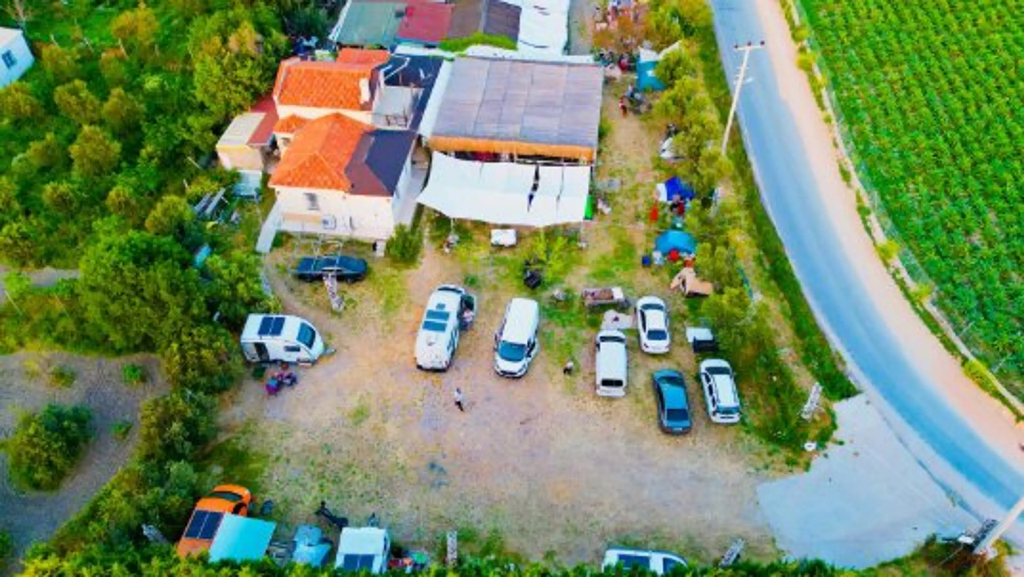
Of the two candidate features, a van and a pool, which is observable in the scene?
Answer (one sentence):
There is a van in the scene.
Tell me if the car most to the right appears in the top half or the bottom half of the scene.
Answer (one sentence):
The bottom half of the photo is where the car most to the right is.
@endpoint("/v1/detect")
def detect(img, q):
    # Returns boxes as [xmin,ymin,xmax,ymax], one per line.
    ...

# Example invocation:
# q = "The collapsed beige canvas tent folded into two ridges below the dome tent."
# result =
[670,269,713,297]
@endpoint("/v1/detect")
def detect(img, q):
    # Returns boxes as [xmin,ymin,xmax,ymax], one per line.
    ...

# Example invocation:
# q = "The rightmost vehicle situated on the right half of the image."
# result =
[700,358,746,427]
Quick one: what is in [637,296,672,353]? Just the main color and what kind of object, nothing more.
white car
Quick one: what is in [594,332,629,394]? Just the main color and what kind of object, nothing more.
white van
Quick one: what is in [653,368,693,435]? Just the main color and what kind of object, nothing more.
blue car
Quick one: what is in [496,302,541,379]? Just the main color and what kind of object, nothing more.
white van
